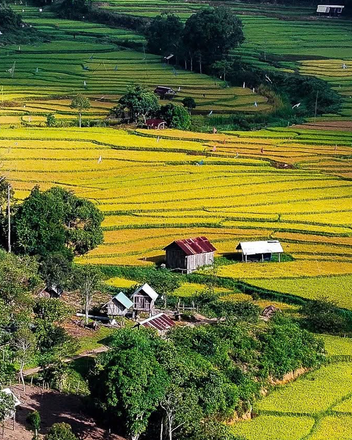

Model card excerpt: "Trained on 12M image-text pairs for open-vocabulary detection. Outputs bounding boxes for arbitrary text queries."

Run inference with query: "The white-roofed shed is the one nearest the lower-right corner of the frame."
[239,240,286,262]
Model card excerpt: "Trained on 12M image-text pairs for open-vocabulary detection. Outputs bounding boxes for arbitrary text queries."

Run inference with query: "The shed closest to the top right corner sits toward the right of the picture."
[317,0,348,18]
